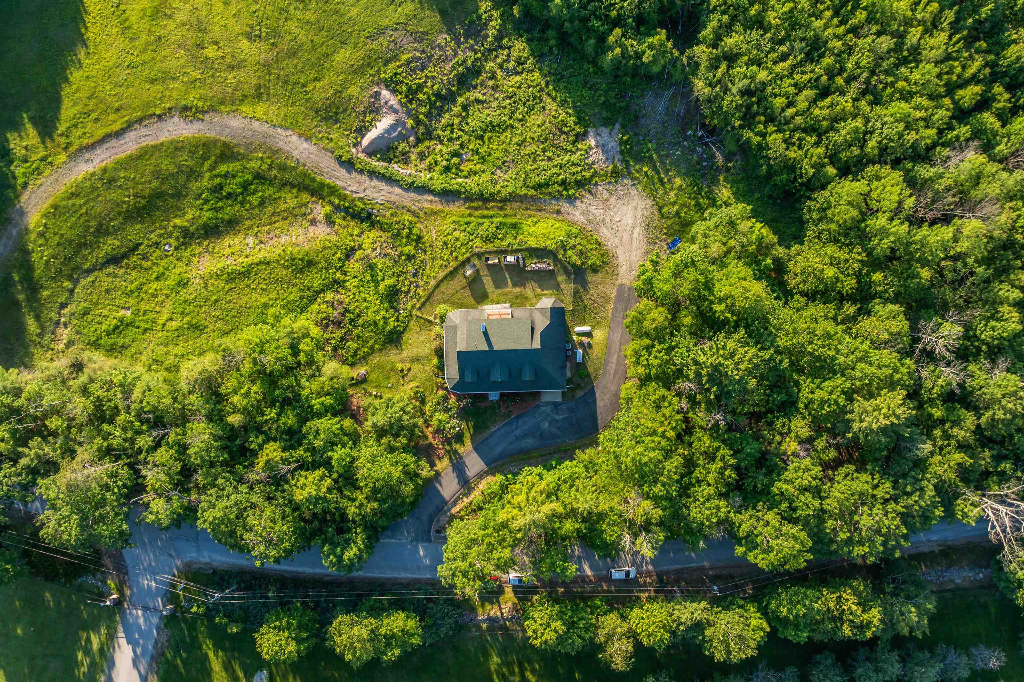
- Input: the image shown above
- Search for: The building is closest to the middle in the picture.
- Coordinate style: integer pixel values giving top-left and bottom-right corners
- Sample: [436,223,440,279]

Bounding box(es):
[443,296,572,398]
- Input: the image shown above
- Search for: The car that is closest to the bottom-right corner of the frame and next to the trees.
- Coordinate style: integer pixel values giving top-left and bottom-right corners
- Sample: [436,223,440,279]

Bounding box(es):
[608,563,634,577]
